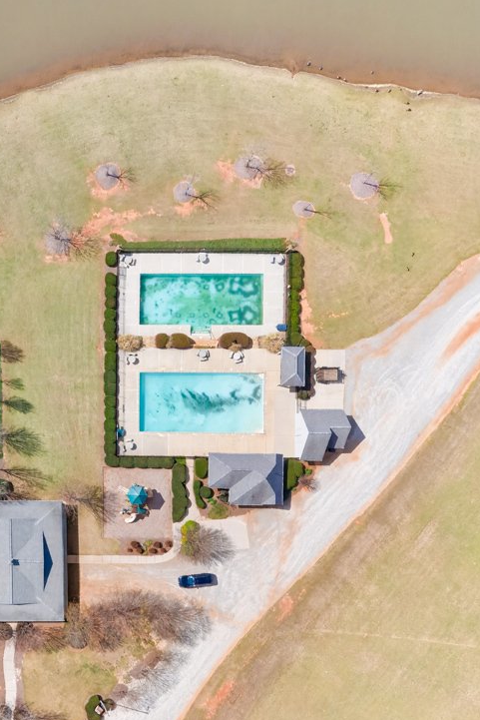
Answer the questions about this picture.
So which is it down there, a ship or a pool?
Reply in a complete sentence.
This aerial view contains a pool.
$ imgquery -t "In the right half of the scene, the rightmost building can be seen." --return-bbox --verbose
[294,410,351,461]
